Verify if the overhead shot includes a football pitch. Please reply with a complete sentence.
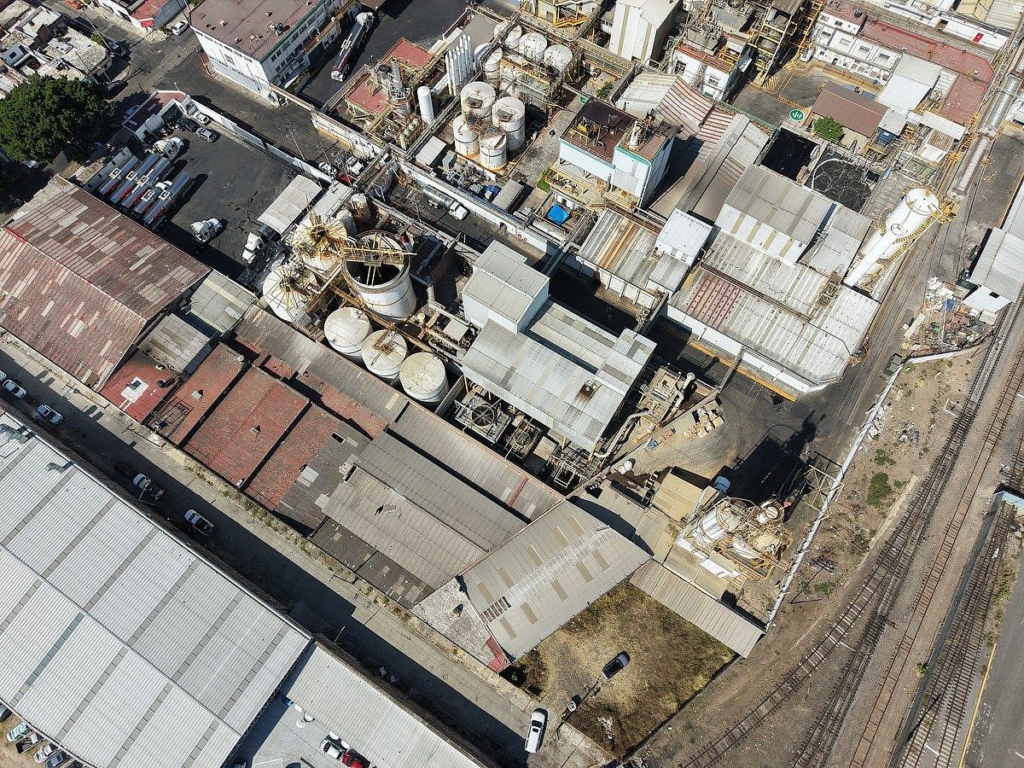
No, the scene contains no football pitch.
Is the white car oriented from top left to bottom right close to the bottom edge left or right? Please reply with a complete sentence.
You can find the white car oriented from top left to bottom right close to the bottom edge on the left side of the picture.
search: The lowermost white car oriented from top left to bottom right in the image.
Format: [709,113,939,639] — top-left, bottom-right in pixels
[317,734,345,765]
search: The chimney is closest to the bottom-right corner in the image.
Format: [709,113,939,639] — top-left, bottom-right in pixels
[672,377,692,417]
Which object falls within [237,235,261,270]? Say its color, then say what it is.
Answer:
white truck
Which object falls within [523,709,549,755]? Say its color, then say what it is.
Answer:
white car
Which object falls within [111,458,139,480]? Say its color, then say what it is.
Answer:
black car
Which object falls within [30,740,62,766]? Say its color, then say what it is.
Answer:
white car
